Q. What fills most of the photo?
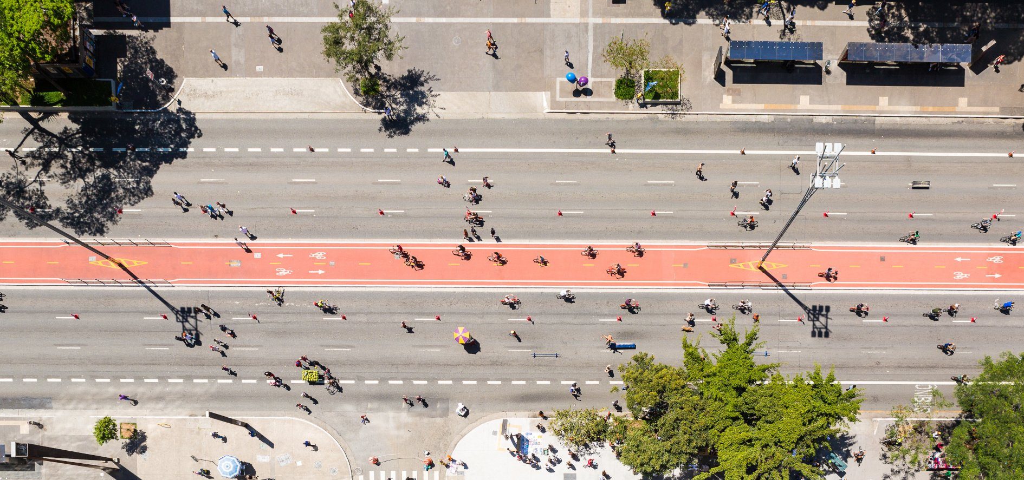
paved ground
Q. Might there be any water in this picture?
No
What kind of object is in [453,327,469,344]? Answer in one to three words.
umbrella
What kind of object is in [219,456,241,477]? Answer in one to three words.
umbrella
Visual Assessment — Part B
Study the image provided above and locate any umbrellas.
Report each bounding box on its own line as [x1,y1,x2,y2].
[453,327,469,344]
[219,456,241,477]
